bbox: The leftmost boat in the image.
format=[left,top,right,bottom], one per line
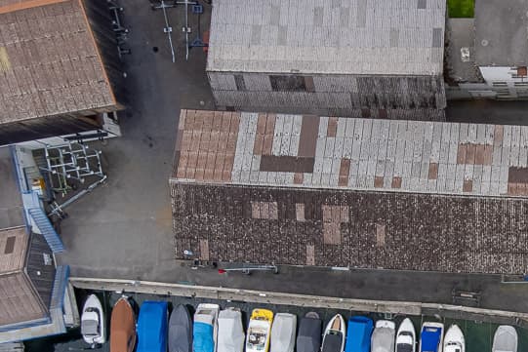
[81,294,109,350]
